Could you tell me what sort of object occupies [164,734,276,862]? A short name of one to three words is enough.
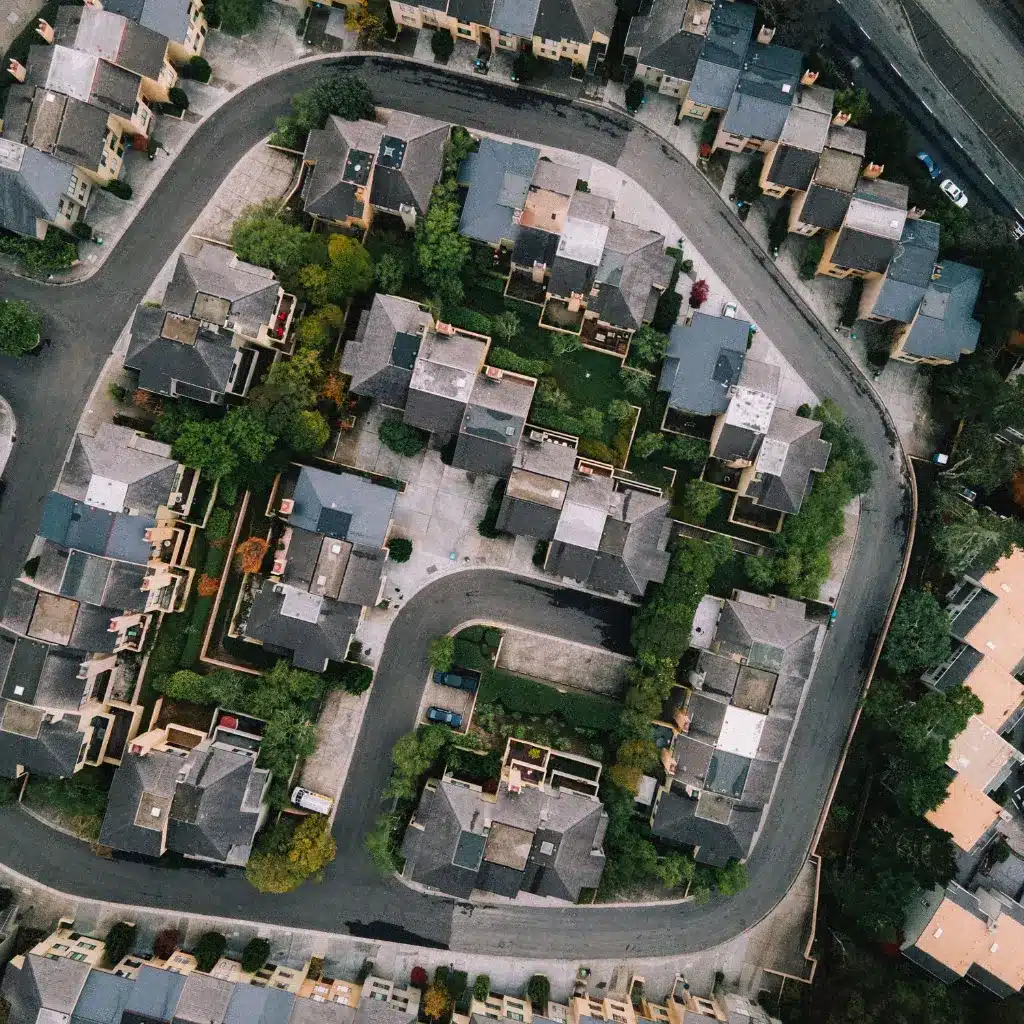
house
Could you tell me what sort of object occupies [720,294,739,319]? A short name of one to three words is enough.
car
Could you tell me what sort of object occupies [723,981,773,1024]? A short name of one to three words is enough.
house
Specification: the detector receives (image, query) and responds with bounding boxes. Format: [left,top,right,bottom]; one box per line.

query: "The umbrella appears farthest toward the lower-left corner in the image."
[220,712,239,728]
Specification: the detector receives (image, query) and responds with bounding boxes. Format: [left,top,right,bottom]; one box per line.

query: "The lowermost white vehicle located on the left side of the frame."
[289,787,334,815]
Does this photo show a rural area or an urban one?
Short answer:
urban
